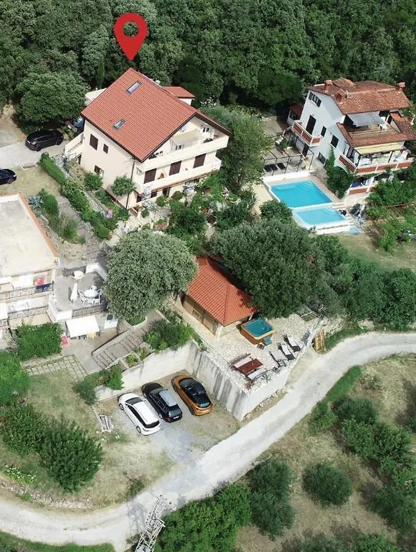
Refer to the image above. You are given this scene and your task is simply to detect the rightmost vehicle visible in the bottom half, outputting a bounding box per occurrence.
[172,368,217,412]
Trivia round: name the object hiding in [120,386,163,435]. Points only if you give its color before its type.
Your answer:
white car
